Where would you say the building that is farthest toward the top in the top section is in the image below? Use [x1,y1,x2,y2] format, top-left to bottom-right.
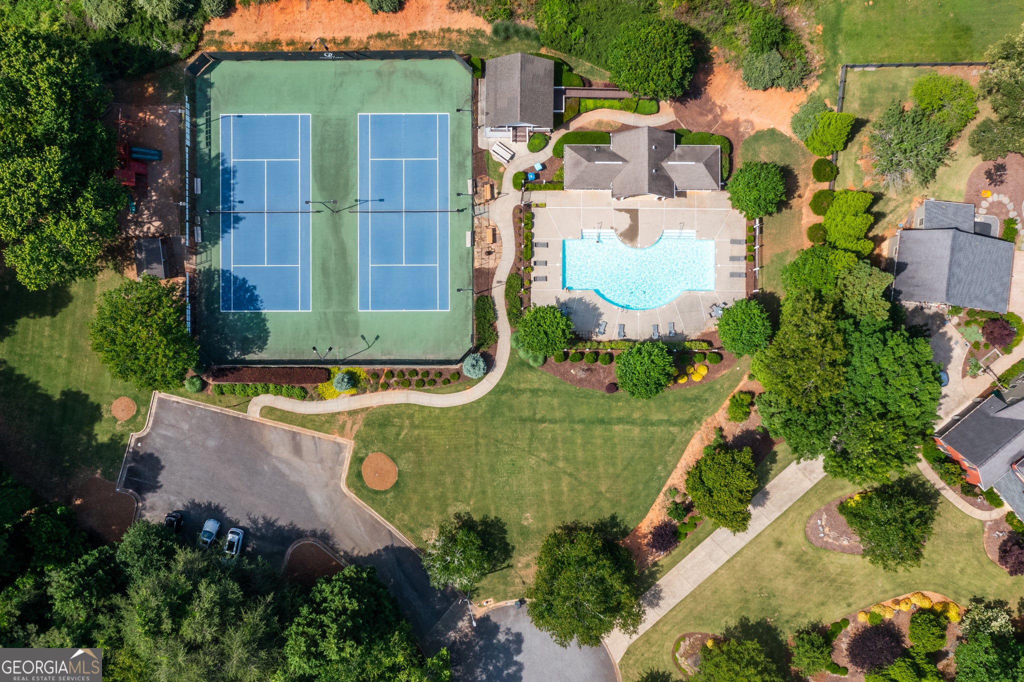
[485,51,566,143]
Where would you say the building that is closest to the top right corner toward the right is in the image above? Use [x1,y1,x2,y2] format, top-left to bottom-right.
[883,200,1015,314]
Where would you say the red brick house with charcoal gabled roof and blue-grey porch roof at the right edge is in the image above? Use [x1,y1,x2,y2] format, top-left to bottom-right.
[932,371,1024,524]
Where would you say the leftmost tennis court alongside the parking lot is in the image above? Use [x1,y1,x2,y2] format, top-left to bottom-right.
[220,114,311,311]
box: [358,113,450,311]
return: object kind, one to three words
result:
tennis court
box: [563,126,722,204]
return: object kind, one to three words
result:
building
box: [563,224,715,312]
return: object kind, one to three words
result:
swimming pool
